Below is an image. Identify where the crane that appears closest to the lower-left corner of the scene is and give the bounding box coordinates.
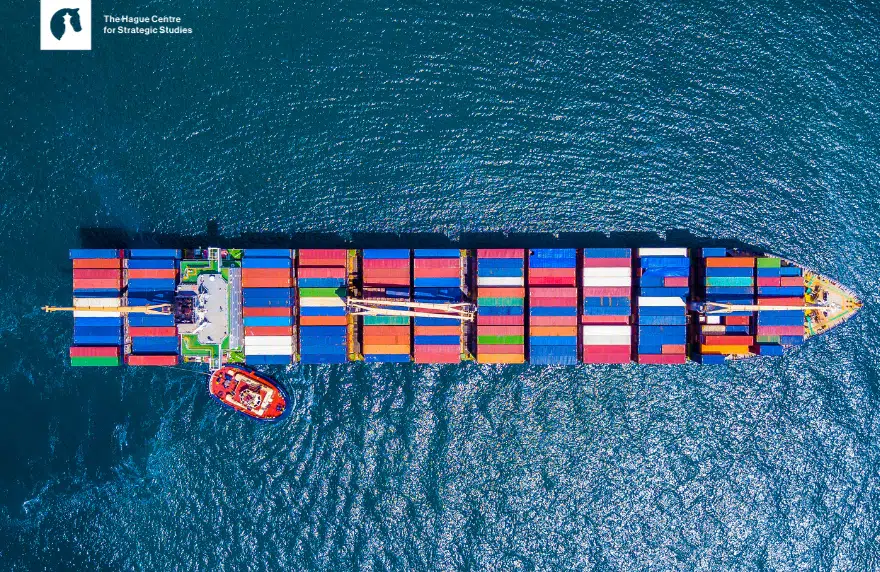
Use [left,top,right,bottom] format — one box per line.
[40,300,172,314]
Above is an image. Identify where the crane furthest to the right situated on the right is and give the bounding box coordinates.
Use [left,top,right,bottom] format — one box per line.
[688,302,834,318]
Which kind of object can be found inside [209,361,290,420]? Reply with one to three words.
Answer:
boat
